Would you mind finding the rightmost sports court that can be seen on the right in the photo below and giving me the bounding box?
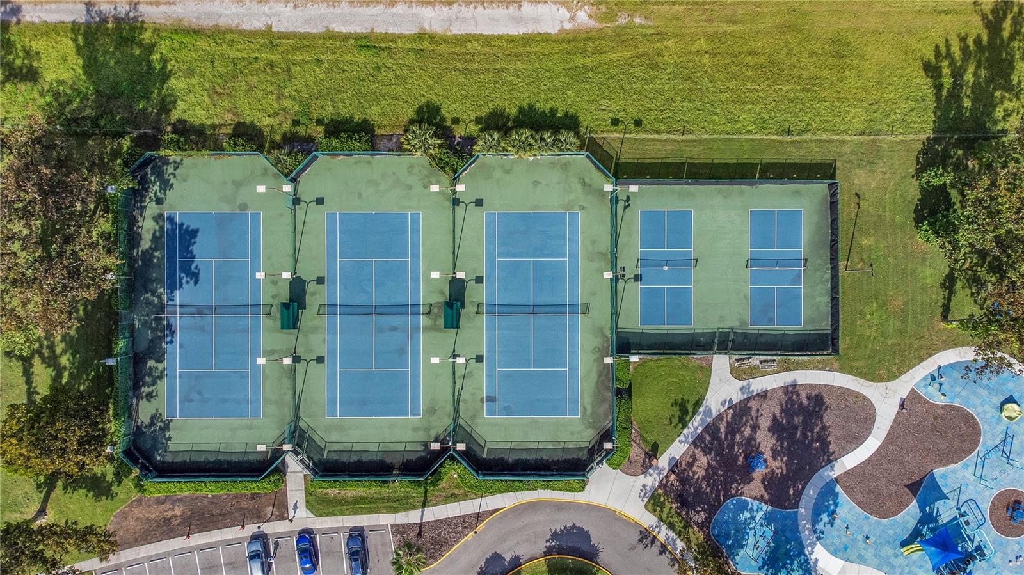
[721,184,830,353]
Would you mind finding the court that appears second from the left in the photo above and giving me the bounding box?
[296,157,453,472]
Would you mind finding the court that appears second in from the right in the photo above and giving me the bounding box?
[615,183,721,353]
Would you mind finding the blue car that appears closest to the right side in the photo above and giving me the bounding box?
[343,533,367,575]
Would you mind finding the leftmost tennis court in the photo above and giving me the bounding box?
[133,157,298,474]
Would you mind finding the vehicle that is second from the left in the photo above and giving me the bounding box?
[296,534,318,574]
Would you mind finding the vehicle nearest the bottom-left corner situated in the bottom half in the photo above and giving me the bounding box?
[247,539,271,575]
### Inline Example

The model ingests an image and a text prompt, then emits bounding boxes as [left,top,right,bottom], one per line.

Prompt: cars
[247,539,271,575]
[296,534,318,574]
[343,533,367,575]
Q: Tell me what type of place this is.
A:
sports ground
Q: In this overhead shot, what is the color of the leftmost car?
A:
blue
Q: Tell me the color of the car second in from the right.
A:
blue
